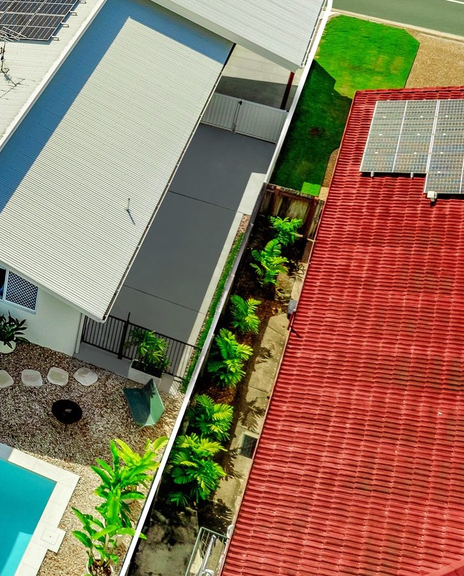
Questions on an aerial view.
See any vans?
No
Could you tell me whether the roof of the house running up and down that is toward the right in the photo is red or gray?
red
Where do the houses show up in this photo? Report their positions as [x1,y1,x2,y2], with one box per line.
[0,0,237,357]
[213,82,464,576]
